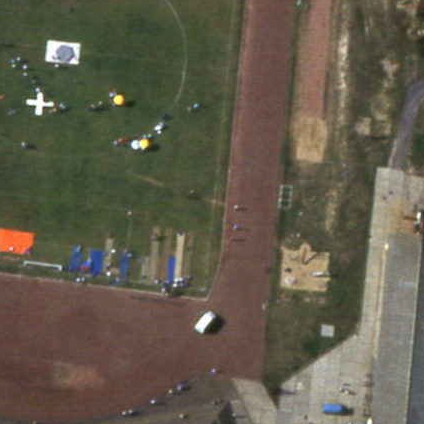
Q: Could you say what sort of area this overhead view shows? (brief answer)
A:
sports ground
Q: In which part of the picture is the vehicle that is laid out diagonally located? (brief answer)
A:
bottom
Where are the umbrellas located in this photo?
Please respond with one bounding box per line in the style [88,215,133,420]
[140,139,151,150]
[130,141,141,151]
[112,96,125,106]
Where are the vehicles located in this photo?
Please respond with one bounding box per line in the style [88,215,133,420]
[321,403,344,417]
[194,314,216,338]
